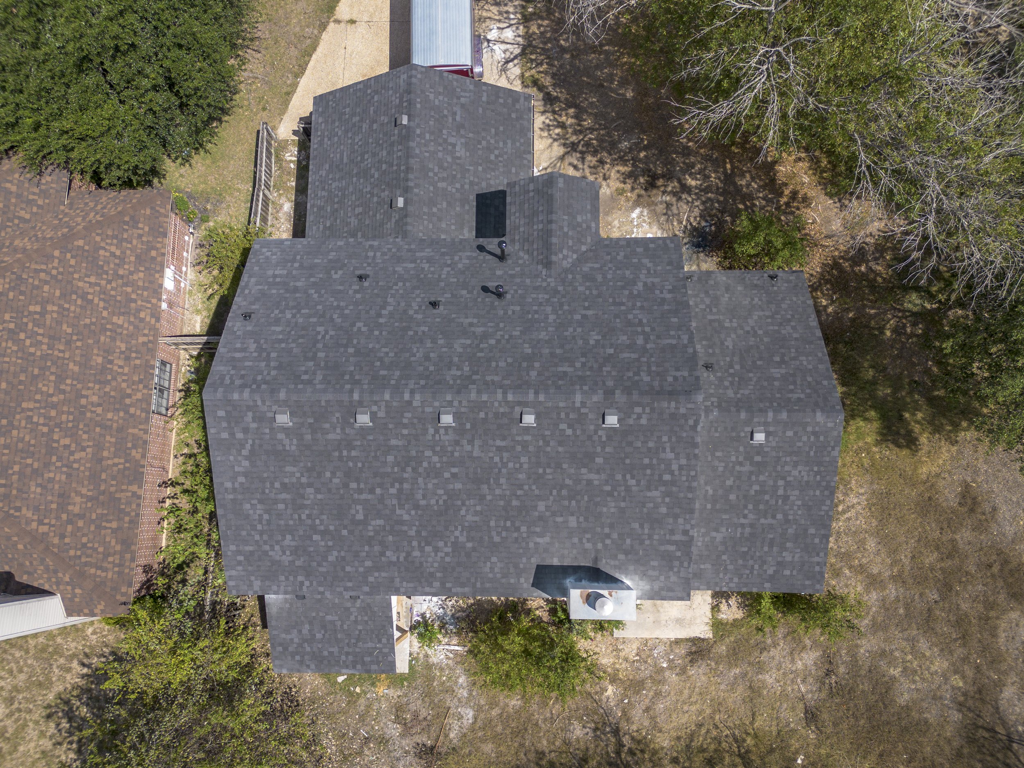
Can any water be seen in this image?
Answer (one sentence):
No, there is no water in the image.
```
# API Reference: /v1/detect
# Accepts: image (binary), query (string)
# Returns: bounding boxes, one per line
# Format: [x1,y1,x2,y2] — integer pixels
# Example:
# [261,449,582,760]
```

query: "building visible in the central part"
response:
[202,66,843,673]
